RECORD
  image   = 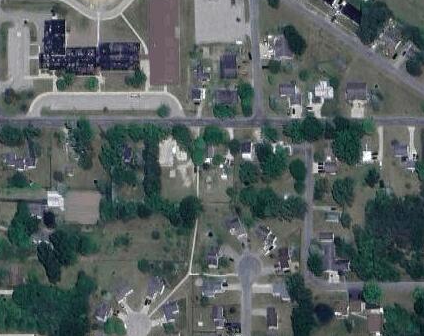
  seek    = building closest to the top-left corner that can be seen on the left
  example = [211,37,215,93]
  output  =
[39,20,142,76]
